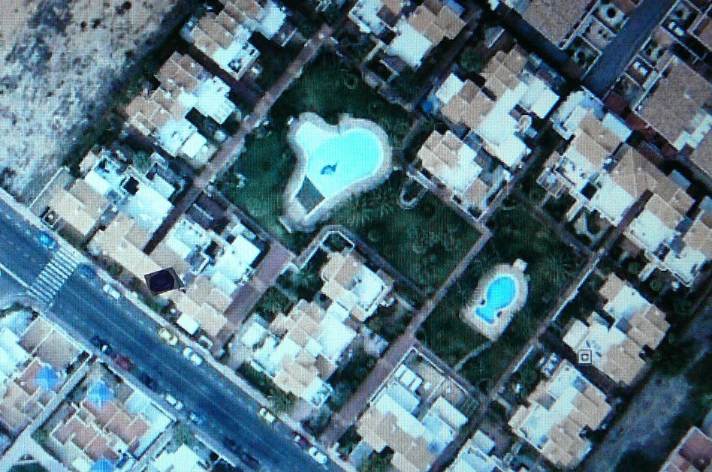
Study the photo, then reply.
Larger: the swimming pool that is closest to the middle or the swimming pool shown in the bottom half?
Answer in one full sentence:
The swimming pool shown in the bottom half is smaller than the swimming pool that is closest to the middle.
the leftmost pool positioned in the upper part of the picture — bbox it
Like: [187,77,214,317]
[280,112,393,231]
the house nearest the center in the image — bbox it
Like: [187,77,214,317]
[318,248,396,325]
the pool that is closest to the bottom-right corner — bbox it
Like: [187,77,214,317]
[461,257,529,342]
